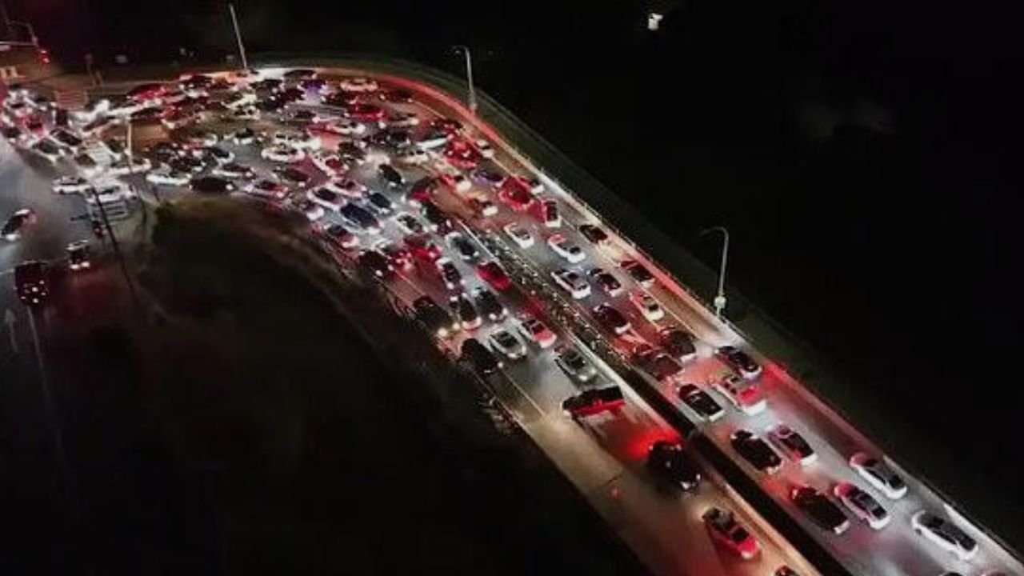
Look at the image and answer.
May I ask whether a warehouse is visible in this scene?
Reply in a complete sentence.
No, there isn't any warehouse down there.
